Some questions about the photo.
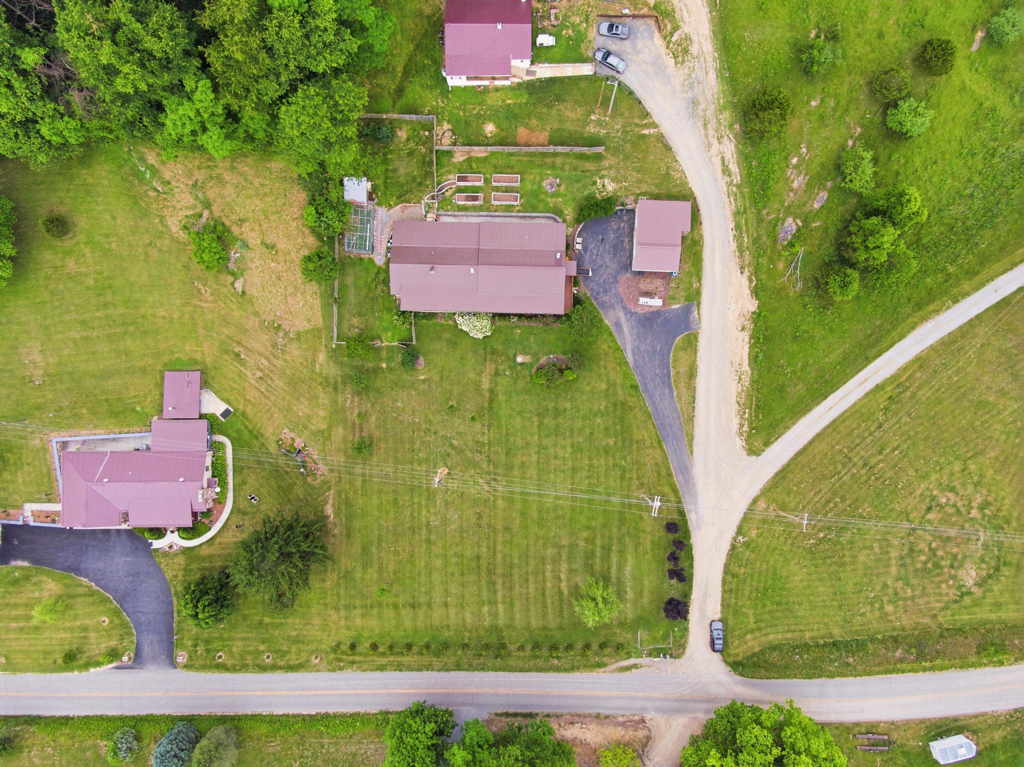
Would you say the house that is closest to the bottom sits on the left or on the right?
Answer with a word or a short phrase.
left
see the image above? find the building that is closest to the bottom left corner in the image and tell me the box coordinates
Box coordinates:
[62,420,234,529]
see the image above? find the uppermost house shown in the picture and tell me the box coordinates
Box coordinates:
[444,0,532,91]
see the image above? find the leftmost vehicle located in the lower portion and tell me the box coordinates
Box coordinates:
[709,619,725,652]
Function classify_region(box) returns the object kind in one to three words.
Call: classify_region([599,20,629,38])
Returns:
car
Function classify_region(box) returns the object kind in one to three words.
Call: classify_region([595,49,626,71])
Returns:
car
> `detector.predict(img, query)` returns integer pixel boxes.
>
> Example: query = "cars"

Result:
[709,619,725,652]
[599,20,629,38]
[595,49,626,71]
